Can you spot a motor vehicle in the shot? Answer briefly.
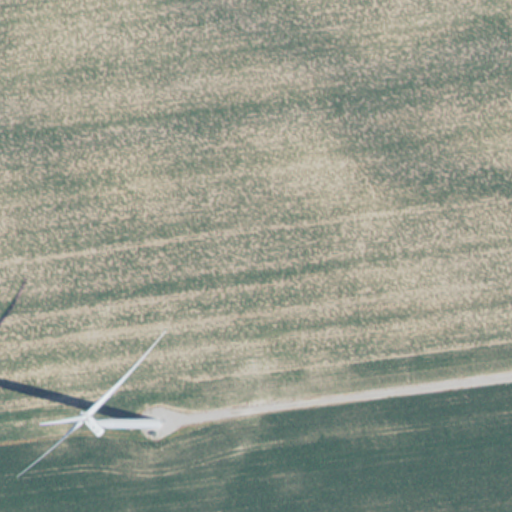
No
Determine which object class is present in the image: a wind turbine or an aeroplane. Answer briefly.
wind turbine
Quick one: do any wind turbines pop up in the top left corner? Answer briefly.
No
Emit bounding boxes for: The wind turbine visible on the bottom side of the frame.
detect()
[18,330,165,477]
